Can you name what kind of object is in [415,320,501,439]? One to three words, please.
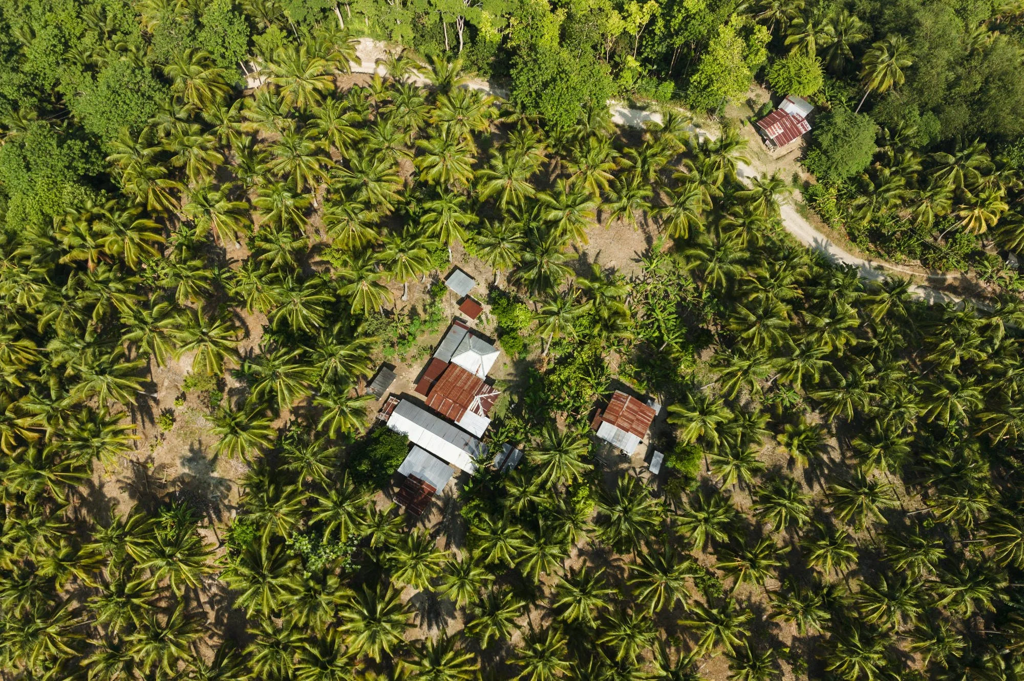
house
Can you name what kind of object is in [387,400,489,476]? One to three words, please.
barn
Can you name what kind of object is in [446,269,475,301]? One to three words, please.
shed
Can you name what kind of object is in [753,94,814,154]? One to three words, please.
house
